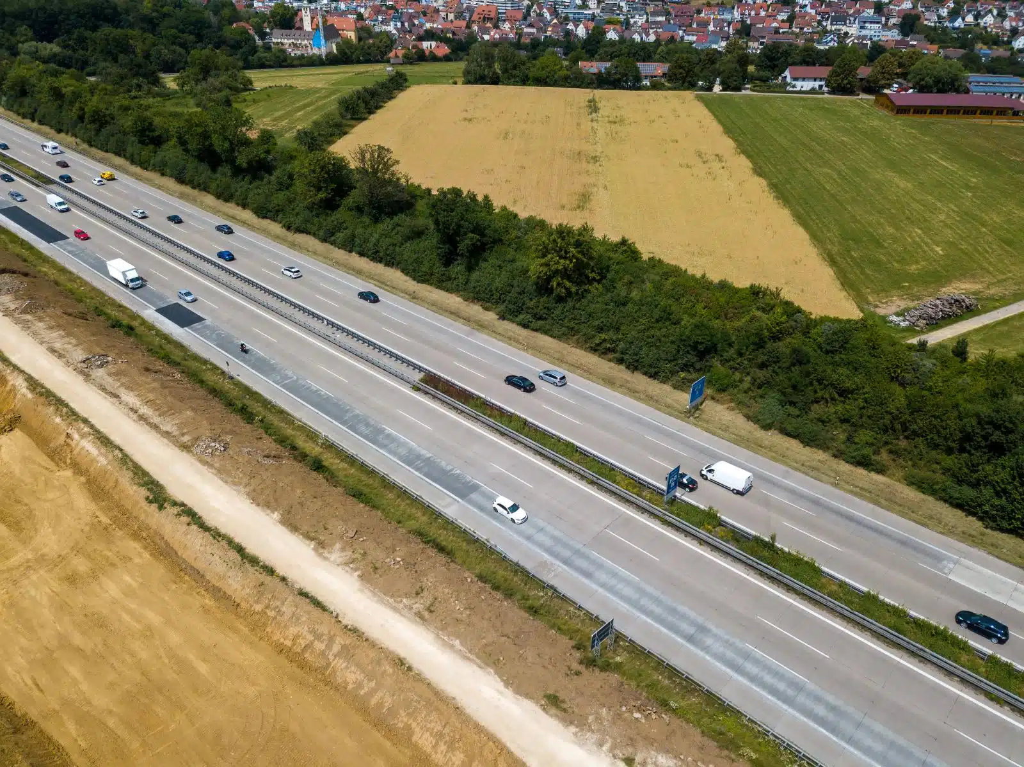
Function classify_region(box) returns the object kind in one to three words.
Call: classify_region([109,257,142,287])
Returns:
truck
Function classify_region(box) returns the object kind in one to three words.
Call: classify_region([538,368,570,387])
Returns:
car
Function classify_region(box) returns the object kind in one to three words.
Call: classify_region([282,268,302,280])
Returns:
vehicle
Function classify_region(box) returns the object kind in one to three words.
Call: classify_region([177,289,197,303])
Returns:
car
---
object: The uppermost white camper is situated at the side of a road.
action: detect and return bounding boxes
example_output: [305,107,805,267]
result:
[43,142,62,155]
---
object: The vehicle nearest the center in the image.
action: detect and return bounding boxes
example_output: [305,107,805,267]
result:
[506,375,538,394]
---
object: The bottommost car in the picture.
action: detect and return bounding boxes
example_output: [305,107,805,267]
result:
[954,608,1014,646]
